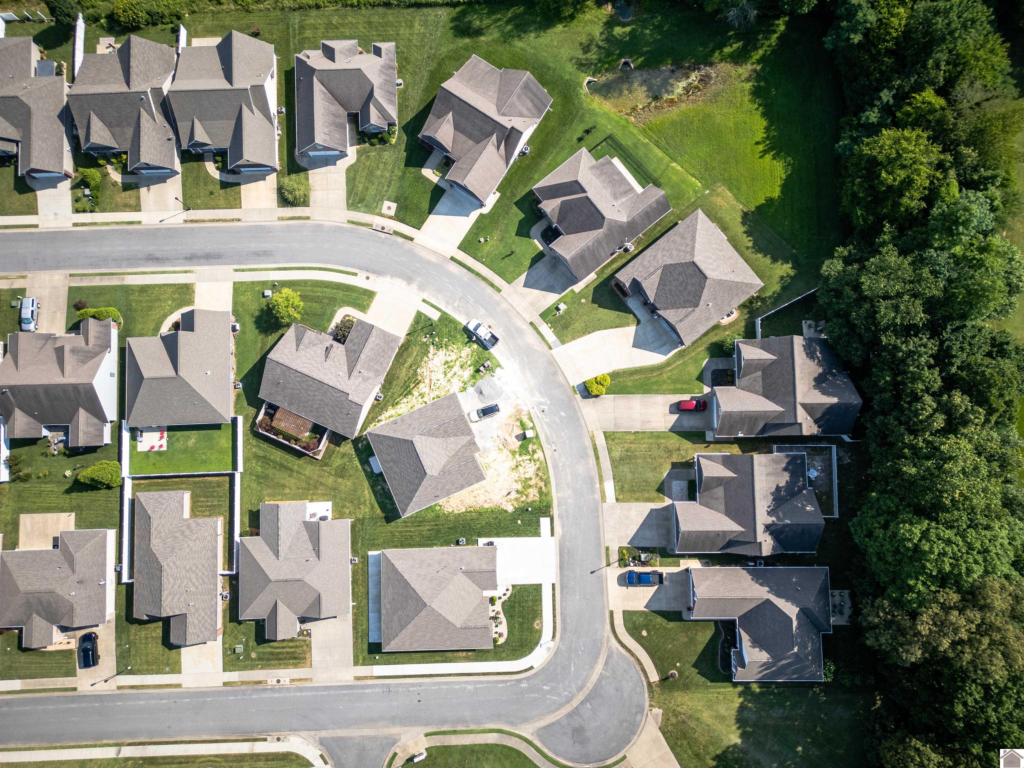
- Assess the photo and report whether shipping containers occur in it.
No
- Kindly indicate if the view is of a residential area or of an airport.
residential area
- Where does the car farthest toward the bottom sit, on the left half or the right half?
left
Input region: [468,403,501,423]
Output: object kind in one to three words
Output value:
car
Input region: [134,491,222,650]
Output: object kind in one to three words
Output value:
house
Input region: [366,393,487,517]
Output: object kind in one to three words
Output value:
house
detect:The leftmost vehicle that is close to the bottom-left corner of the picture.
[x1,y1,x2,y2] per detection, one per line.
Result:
[79,633,99,668]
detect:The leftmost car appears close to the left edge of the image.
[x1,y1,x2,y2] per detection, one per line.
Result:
[18,297,39,331]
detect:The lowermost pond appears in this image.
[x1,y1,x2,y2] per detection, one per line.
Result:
[590,66,695,112]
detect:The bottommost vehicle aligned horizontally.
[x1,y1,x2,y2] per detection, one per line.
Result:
[626,571,664,587]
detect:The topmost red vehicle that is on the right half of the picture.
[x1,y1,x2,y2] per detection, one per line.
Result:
[675,398,706,413]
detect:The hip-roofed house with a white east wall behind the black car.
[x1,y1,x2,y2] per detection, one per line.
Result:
[0,528,114,653]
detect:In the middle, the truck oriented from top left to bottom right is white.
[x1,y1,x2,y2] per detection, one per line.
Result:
[465,317,500,350]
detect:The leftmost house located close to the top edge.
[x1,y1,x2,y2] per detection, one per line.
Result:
[0,31,74,180]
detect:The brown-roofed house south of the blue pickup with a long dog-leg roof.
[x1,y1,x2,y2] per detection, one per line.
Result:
[687,564,832,682]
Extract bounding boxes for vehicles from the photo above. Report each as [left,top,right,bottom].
[468,403,501,423]
[465,317,500,350]
[626,571,664,587]
[79,633,99,668]
[675,398,706,413]
[18,297,39,331]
